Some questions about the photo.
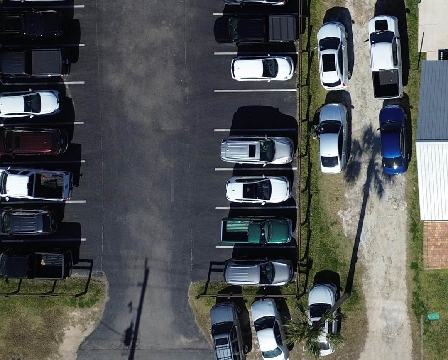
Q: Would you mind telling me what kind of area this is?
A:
parking lot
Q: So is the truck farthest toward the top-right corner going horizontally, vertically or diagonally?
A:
vertically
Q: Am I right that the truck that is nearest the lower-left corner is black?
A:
Yes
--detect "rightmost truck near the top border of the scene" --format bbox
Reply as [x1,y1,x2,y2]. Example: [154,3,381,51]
[366,14,405,100]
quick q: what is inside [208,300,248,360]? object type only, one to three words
car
